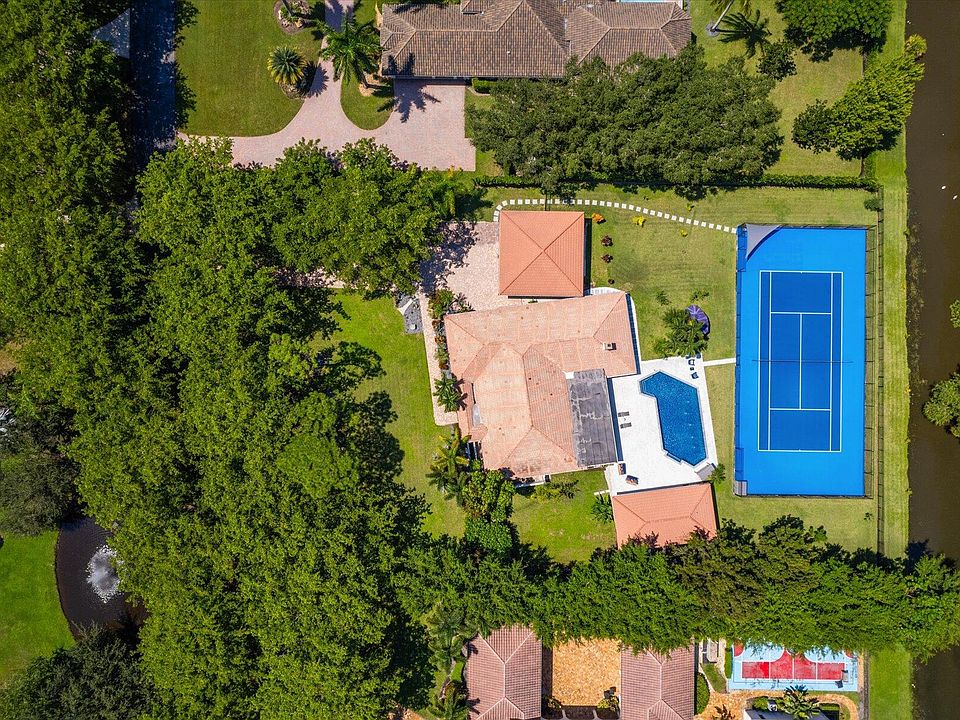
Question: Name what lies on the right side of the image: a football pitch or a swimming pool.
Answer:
swimming pool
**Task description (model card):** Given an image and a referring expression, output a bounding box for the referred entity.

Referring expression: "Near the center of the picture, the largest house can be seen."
[443,292,637,480]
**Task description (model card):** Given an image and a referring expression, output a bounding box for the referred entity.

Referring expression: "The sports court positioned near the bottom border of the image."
[728,629,858,690]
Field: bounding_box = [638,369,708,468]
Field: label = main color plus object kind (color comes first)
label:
blue swimming pool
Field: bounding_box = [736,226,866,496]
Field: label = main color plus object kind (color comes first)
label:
blue tennis court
